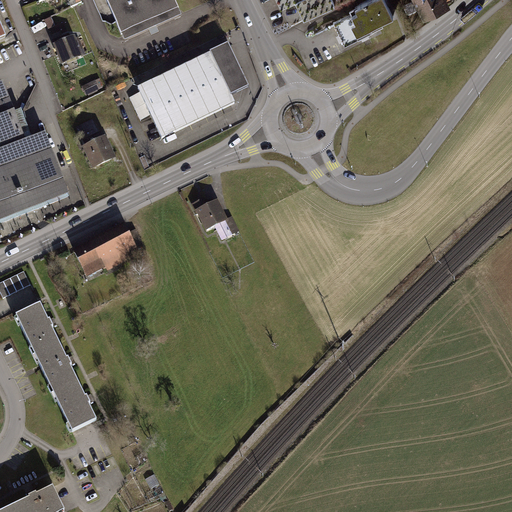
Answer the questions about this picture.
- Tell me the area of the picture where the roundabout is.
top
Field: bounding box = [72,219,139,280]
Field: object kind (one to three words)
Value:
house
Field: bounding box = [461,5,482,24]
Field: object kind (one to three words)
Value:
vehicle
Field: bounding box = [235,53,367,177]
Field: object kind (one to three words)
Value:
roundabout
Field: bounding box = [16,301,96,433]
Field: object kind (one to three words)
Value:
building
